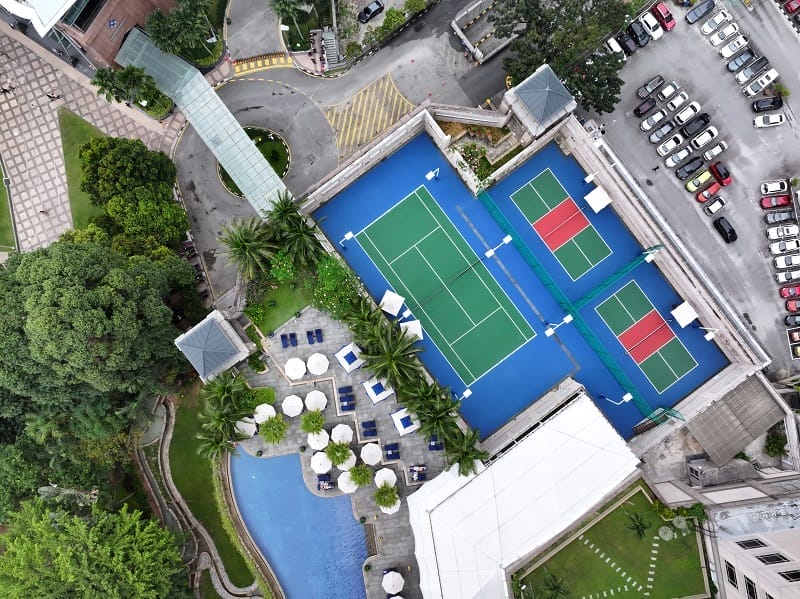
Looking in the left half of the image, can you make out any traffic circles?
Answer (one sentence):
Yes, a traffic circle appears in the left half of the image.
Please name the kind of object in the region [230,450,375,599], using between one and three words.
swimming pool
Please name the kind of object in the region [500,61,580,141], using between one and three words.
building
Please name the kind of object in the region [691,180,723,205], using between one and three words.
car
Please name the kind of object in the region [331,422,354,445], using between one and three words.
umbrella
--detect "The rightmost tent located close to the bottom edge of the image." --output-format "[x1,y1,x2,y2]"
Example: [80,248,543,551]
[407,389,641,599]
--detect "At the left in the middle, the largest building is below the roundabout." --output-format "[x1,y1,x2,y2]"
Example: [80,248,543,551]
[173,306,252,388]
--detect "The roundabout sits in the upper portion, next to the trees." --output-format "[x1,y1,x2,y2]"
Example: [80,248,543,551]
[214,123,291,199]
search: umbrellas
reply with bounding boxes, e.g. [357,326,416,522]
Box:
[308,354,329,374]
[381,569,404,593]
[284,356,307,379]
[305,389,327,410]
[375,466,396,488]
[378,493,402,515]
[331,422,354,445]
[360,442,382,465]
[338,447,358,469]
[309,451,332,473]
[253,401,277,424]
[308,428,329,449]
[282,394,304,416]
[235,416,257,437]
[336,470,358,494]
